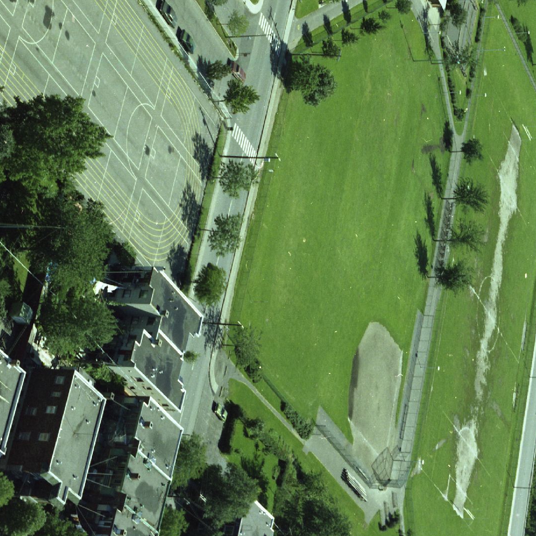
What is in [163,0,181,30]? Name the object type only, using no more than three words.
car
